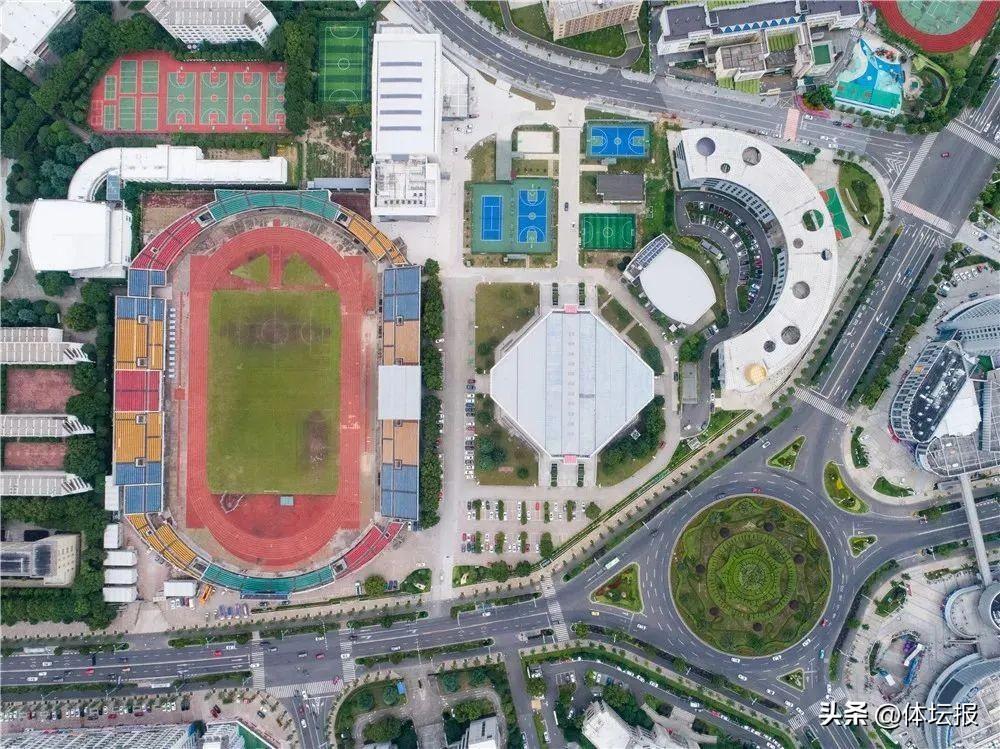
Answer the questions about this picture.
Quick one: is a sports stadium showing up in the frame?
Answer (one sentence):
Yes, this view includes a sports stadium.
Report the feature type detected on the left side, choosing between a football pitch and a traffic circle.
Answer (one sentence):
What appears on the left side is a football pitch.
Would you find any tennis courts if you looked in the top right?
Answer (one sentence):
Yes, there is a tennis court in the top right.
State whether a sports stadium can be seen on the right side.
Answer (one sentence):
No, no sports stadium appears on the right side.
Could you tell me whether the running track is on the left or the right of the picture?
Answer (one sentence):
The running track sits on the left side.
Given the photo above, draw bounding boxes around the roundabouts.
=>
[670,494,833,658]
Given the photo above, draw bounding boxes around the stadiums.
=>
[112,188,424,600]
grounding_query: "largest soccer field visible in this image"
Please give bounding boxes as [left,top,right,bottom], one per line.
[207,290,341,494]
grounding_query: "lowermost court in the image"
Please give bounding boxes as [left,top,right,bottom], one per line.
[5,442,63,467]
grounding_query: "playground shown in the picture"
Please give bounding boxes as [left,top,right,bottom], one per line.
[838,34,904,116]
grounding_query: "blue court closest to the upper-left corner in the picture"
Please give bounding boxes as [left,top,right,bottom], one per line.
[480,195,503,240]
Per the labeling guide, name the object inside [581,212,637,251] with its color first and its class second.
green sports field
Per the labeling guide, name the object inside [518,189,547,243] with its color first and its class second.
blue basketball court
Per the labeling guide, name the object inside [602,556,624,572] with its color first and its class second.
white vehicle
